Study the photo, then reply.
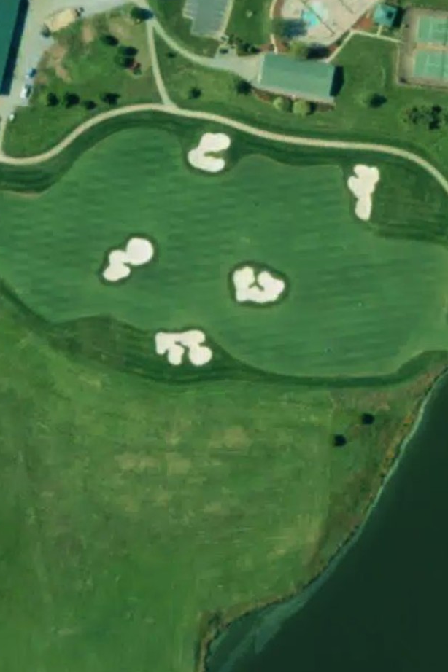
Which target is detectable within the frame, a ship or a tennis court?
tennis court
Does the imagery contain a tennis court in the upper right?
Yes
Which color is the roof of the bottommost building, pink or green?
green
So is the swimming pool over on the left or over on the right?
right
